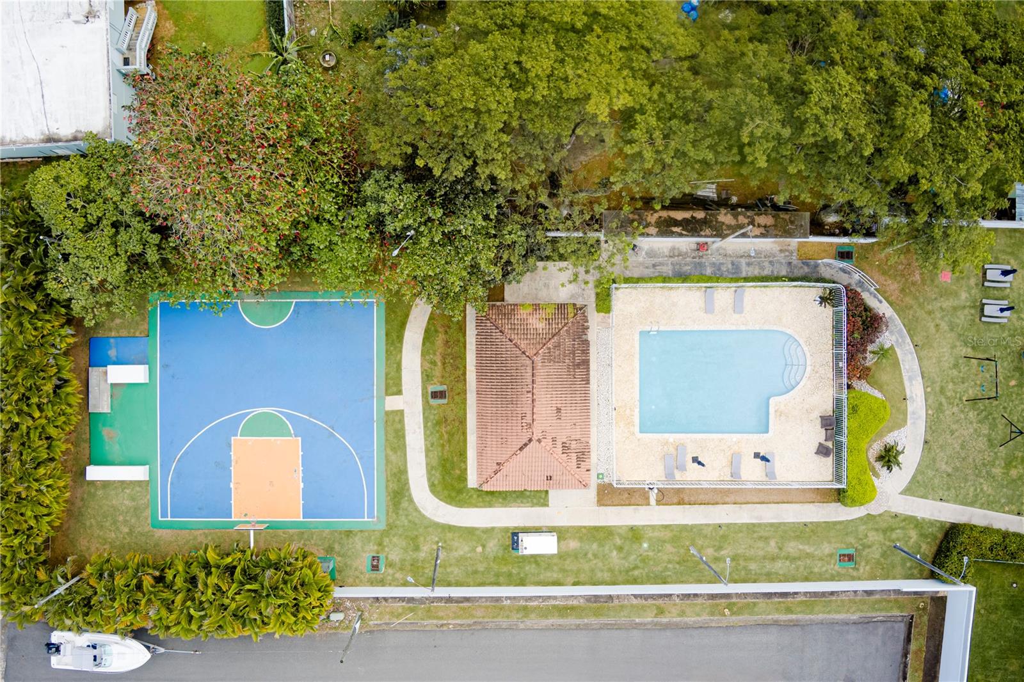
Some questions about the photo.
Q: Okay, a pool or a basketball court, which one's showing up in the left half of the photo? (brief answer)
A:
basketball court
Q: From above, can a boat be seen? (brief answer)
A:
Yes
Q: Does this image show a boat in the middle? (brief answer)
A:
No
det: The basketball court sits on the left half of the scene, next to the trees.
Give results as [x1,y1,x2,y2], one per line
[149,292,385,530]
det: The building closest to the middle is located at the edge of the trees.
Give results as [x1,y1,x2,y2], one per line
[474,302,592,493]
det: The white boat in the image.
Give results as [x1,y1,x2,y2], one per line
[41,632,150,672]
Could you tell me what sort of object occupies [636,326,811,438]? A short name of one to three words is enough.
swimming pool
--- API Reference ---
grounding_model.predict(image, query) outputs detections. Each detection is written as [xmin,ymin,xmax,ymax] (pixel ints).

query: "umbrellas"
[754,453,776,466]
[999,305,1016,314]
[1002,268,1018,279]
[692,456,709,469]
